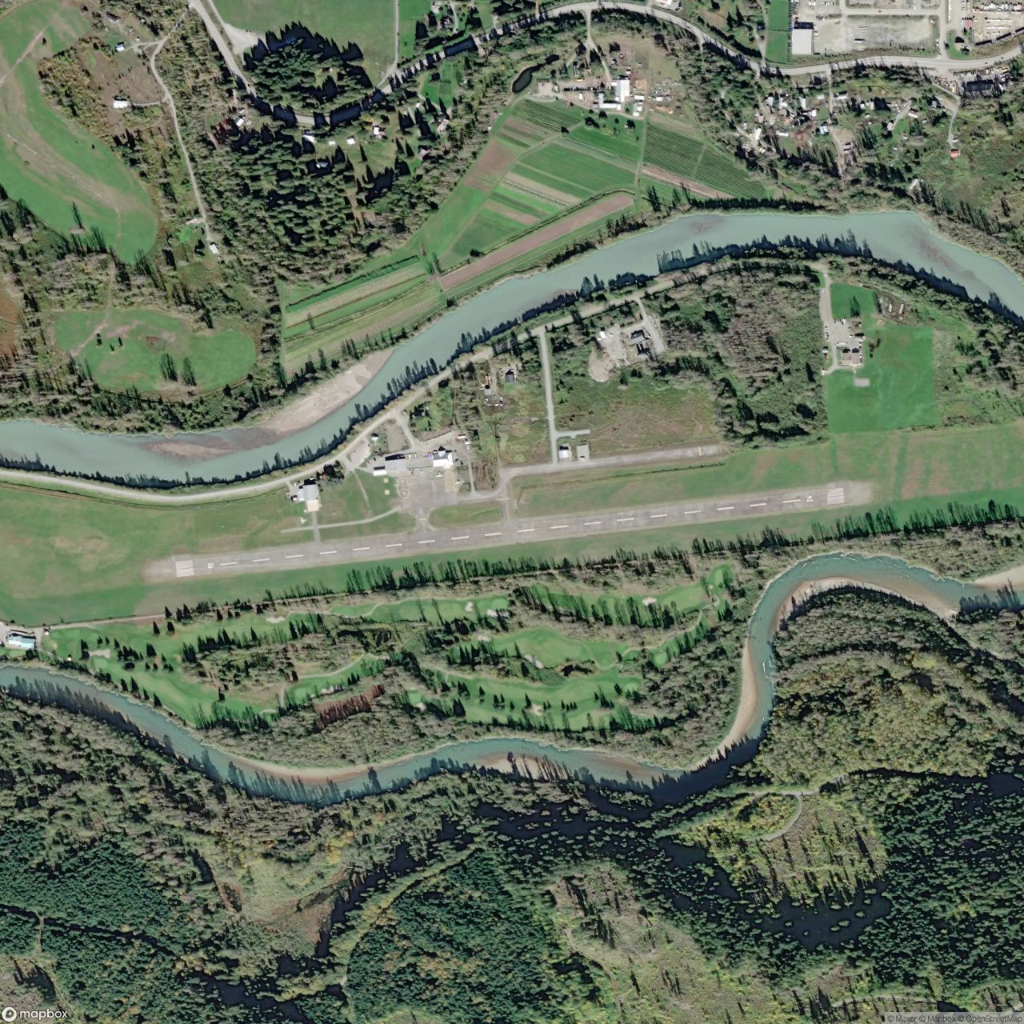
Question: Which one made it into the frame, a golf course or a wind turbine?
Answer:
golf course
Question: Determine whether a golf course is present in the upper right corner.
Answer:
No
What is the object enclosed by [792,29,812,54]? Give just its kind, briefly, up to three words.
building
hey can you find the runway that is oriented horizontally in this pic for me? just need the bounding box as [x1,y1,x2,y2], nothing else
[173,483,846,579]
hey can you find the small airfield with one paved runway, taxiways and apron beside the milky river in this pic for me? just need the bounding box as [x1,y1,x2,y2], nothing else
[172,445,855,581]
